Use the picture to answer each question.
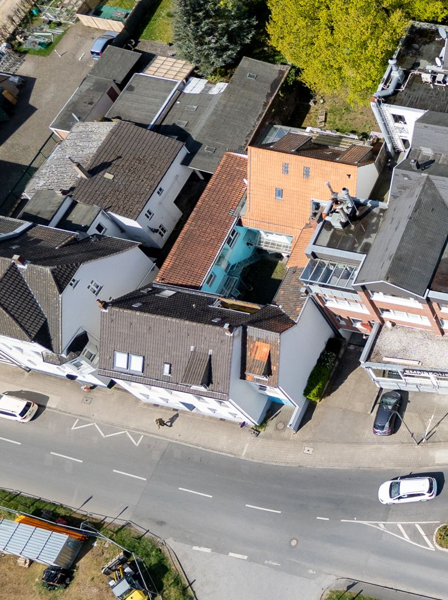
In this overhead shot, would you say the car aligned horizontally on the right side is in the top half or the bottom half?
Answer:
bottom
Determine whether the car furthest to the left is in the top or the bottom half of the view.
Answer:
bottom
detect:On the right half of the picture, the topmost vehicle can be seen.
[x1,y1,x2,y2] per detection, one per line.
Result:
[373,389,404,439]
